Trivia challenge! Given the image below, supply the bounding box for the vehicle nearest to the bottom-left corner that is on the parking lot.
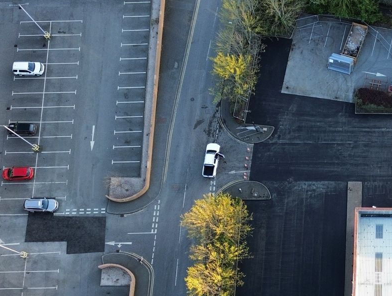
[21,197,60,212]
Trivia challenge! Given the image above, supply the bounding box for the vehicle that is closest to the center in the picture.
[202,143,220,178]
